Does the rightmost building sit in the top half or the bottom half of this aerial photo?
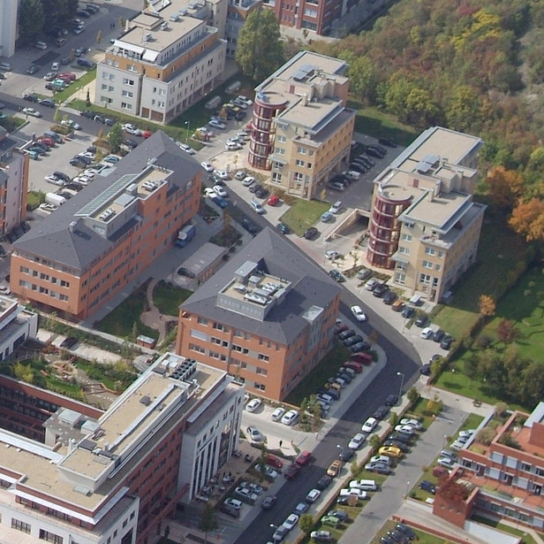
bottom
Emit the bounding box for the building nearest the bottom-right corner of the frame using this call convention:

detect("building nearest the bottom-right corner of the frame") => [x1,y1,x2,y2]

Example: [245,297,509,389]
[430,399,544,532]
